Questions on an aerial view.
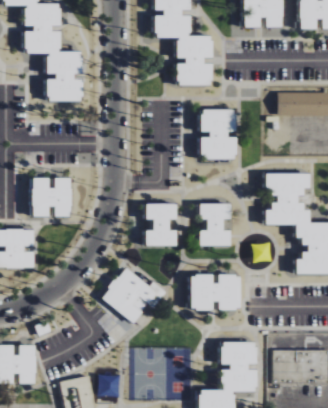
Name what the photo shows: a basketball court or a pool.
basketball court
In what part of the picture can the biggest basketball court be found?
bottom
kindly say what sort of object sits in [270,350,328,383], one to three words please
building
